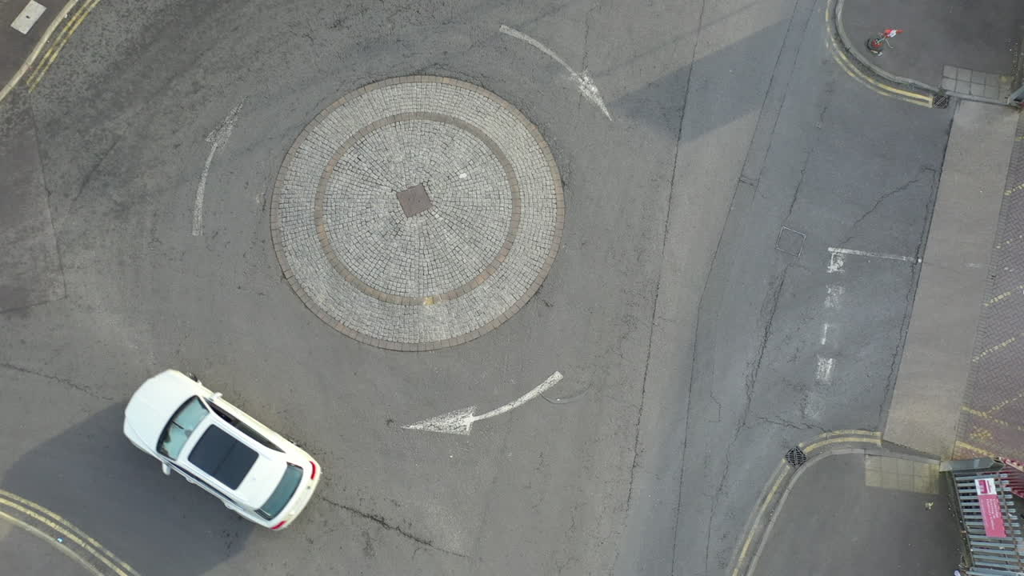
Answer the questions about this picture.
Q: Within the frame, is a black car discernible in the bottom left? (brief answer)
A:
No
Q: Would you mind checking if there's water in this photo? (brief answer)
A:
No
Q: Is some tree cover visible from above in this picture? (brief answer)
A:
No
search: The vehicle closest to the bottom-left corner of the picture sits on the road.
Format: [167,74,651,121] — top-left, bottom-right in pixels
[124,370,325,532]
